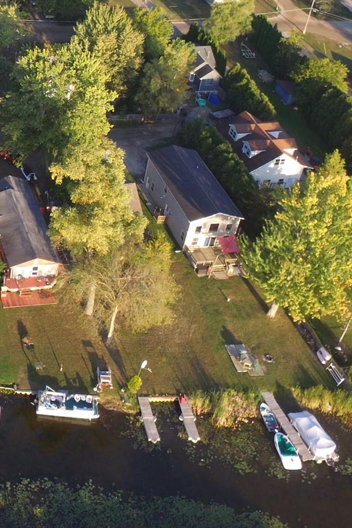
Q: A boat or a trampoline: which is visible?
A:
boat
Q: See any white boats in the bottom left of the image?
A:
Yes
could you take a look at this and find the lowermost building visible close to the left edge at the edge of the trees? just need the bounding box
[0,175,69,311]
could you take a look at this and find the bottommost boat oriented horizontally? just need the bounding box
[36,390,99,416]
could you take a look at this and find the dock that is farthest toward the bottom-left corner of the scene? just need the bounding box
[137,397,161,445]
